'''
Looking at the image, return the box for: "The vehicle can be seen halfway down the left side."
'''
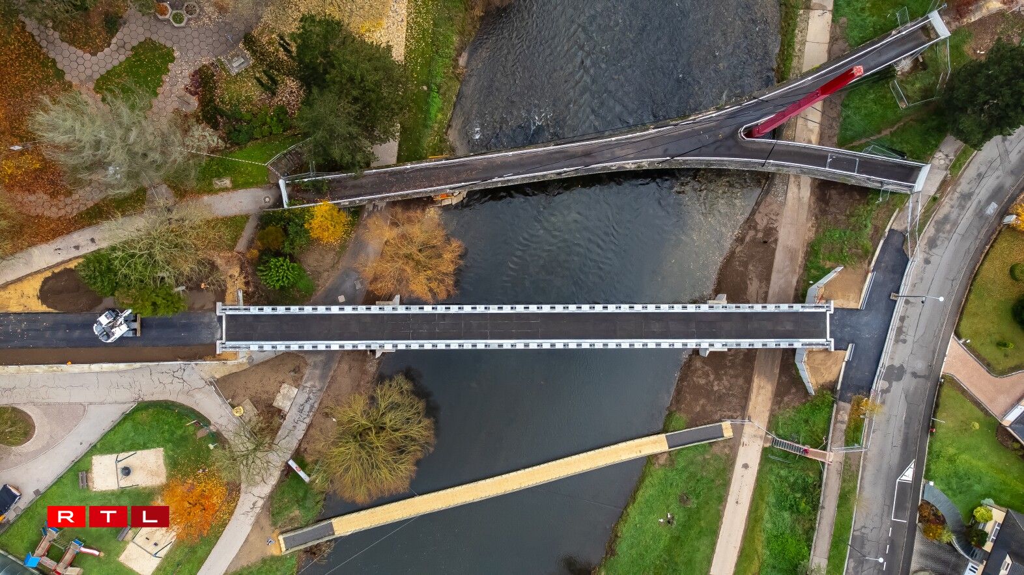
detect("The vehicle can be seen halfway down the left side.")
[96,308,141,342]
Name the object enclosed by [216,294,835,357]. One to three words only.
bridge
